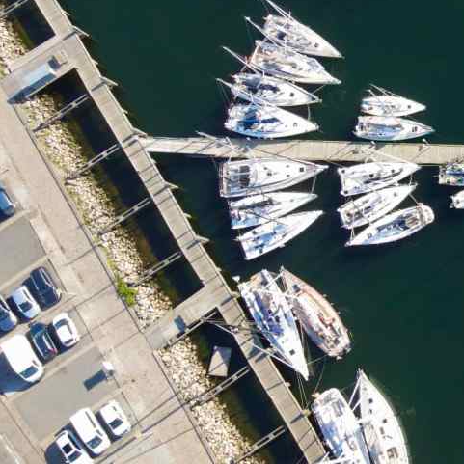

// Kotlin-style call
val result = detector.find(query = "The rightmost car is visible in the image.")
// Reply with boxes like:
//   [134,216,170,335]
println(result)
[102,400,131,437]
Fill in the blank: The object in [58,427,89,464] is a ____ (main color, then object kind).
white car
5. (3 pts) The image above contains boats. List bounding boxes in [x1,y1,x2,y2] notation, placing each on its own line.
[237,13,341,86]
[243,270,350,355]
[338,177,418,228]
[212,270,308,381]
[210,76,318,139]
[312,369,414,464]
[450,191,464,210]
[259,0,343,57]
[339,148,422,195]
[220,46,320,110]
[222,180,319,226]
[303,59,328,76]
[210,137,328,196]
[337,209,436,248]
[233,209,323,260]
[436,160,464,188]
[358,84,427,118]
[354,99,435,143]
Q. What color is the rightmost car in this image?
white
